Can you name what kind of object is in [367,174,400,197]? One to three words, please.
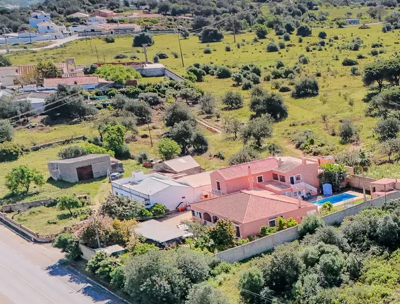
building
